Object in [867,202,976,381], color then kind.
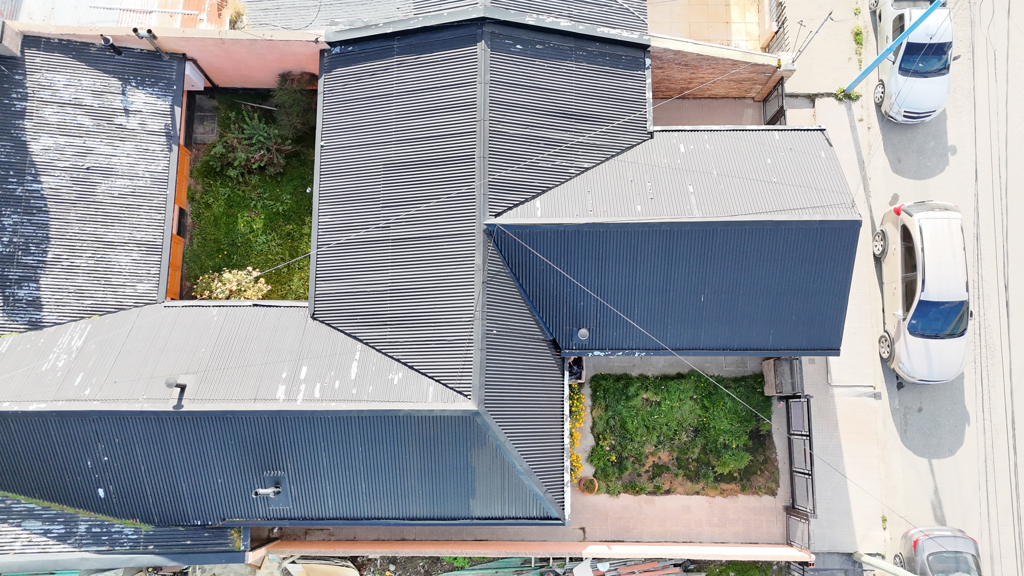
white car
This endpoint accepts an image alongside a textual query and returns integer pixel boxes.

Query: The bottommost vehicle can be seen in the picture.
[891,530,985,576]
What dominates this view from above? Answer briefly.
buildings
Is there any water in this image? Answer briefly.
No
